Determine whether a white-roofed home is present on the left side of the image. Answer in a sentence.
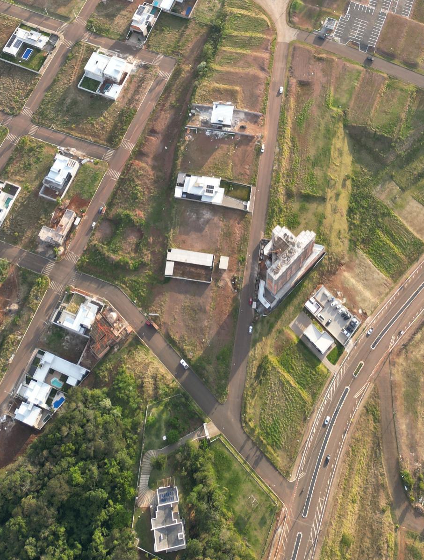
Yes, the scene does show a white-roofed home on the left side of the image.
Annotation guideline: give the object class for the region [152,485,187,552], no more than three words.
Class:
house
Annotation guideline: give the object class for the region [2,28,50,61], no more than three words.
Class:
house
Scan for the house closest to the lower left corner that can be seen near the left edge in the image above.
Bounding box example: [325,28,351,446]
[15,400,46,427]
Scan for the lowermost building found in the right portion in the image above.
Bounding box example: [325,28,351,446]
[303,322,335,353]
